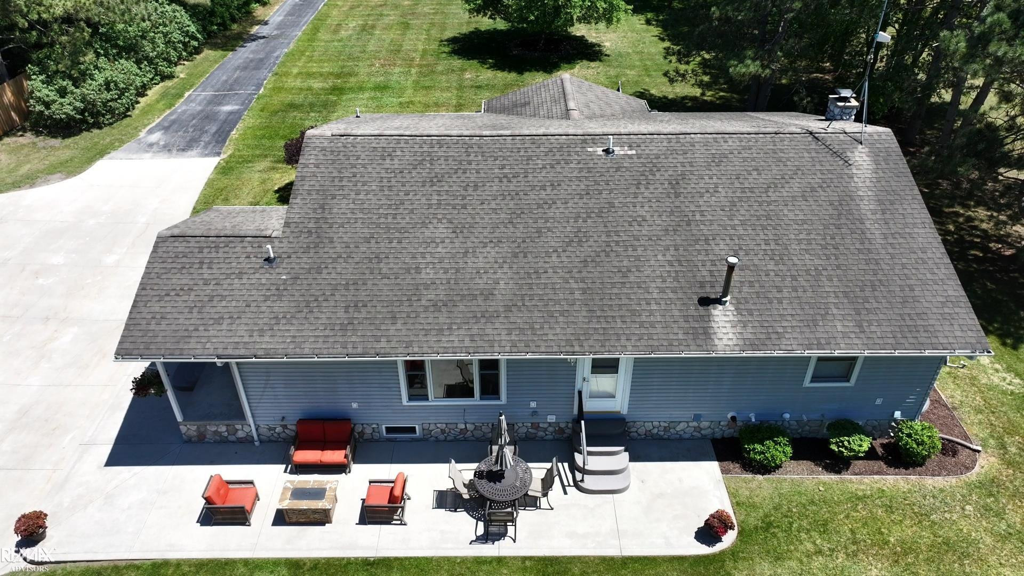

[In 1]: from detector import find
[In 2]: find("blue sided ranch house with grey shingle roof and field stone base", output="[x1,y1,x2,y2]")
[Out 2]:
[111,73,997,448]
